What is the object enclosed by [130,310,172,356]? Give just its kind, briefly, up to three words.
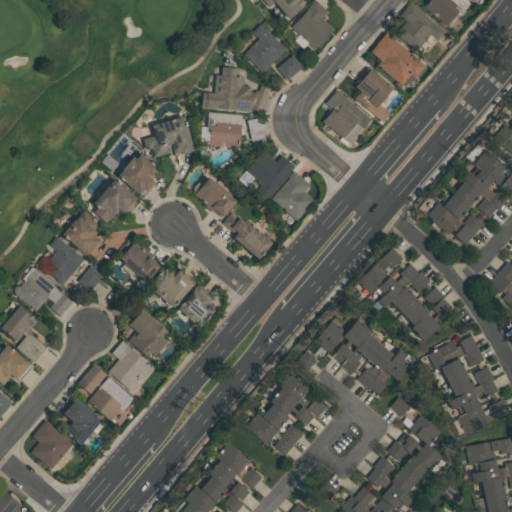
house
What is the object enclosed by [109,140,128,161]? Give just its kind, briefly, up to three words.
swimming pool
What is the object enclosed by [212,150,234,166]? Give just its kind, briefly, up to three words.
swimming pool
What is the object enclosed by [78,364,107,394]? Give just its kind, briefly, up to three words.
building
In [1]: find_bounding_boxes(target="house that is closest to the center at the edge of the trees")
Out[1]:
[222,212,274,259]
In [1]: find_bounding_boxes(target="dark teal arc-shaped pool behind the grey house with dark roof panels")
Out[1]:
[154,103,182,120]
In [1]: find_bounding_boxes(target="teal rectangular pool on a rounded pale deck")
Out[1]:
[86,174,106,194]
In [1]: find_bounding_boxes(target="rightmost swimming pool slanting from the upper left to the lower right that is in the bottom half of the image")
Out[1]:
[171,318,190,335]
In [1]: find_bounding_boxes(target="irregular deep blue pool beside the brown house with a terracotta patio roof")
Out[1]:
[386,93,404,112]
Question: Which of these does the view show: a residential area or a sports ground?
residential area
